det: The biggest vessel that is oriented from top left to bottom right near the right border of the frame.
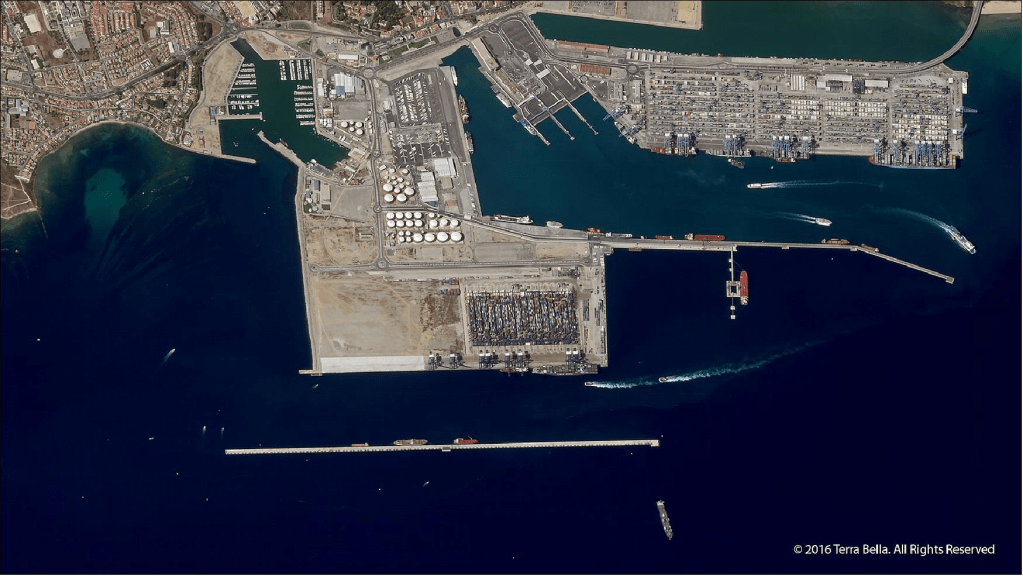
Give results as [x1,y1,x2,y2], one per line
[951,226,976,253]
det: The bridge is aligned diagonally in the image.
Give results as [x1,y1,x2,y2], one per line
[880,0,982,74]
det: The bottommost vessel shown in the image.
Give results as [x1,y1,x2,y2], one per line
[657,501,671,540]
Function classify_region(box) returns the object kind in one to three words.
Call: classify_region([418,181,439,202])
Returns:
building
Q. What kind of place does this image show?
port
